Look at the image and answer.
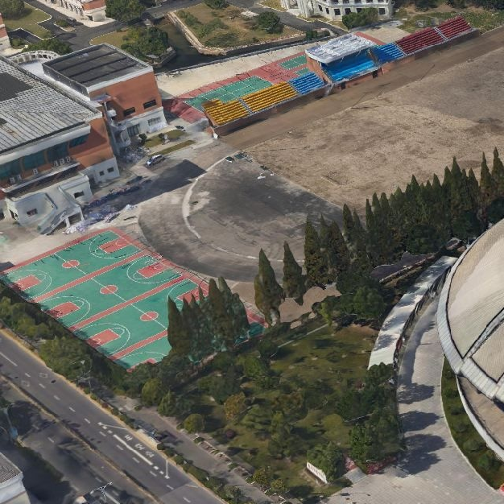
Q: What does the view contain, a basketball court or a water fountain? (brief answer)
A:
basketball court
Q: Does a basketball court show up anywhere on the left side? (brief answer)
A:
Yes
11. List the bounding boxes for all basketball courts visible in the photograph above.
[119,339,174,370]
[78,278,207,358]
[0,223,284,403]
[1,231,139,297]
[43,254,177,324]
